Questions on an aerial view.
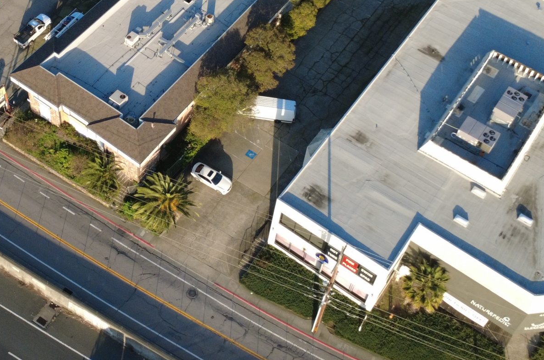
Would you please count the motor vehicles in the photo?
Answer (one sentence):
In total, there are 4 motor vehicles in the scene.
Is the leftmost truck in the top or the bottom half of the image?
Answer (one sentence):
The leftmost truck is in the top half of the image.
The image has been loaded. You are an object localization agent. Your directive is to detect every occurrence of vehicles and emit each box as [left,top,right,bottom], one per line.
[16,14,48,49]
[45,7,84,40]
[254,94,300,124]
[191,162,232,196]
